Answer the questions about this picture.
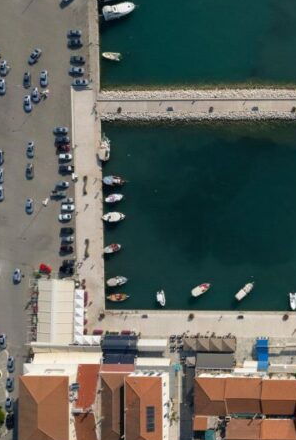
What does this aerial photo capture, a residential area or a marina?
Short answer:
marina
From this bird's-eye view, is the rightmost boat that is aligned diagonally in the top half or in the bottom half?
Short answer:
bottom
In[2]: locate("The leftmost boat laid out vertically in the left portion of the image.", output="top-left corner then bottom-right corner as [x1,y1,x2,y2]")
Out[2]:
[98,134,111,163]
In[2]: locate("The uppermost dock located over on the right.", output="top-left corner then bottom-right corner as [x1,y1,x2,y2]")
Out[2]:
[95,84,296,125]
